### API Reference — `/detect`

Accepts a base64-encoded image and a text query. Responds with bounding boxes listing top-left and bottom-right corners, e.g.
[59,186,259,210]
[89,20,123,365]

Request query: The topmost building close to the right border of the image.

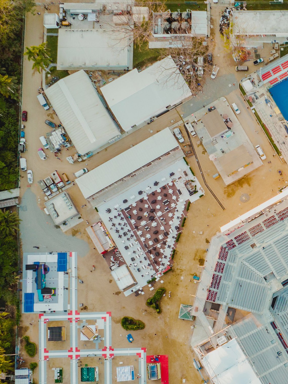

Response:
[230,10,288,44]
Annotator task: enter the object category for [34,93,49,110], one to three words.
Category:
vehicle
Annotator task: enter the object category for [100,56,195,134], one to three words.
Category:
tent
